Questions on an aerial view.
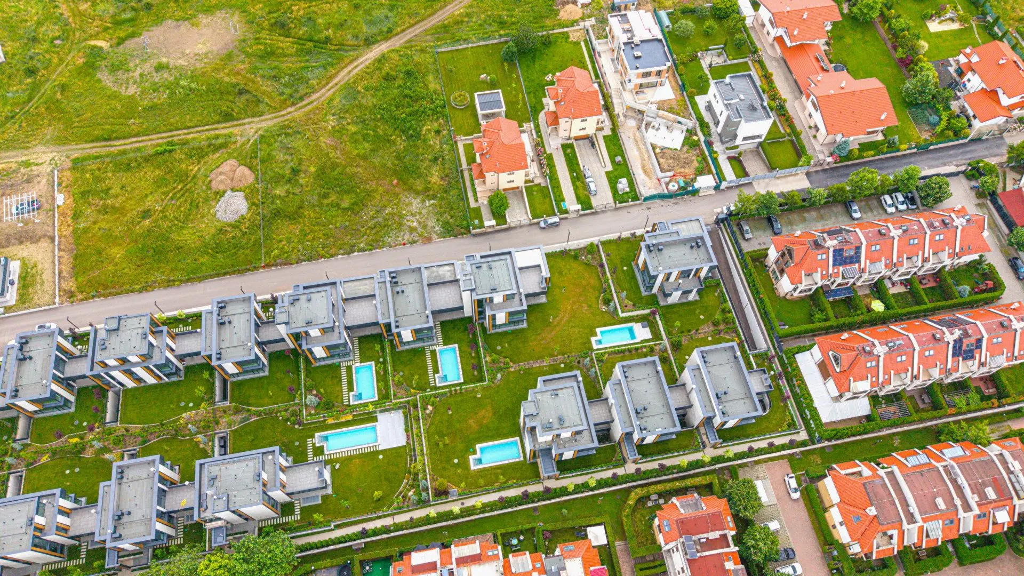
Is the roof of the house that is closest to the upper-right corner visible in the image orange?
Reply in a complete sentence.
Yes, the roof of the house that is closest to the upper-right corner is indeed orange.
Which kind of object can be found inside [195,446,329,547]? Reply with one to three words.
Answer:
house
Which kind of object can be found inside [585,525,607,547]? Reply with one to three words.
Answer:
gazebo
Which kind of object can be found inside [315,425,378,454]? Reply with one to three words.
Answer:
swimming pool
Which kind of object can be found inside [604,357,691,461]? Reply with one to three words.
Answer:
house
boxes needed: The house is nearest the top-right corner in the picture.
[949,40,1024,130]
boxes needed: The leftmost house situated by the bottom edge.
[0,489,98,571]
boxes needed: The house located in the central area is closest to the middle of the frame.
[463,245,550,336]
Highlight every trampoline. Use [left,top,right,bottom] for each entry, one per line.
[832,63,846,73]
[333,562,354,576]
